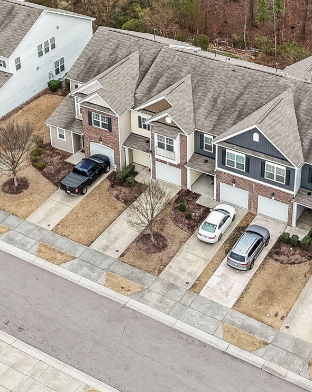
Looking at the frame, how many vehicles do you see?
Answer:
3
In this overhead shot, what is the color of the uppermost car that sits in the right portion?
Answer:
white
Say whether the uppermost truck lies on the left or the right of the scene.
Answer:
left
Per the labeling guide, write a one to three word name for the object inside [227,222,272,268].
car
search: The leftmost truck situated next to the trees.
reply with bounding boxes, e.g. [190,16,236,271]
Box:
[60,152,113,194]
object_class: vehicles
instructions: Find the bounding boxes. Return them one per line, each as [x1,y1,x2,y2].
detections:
[60,152,113,194]
[195,202,237,243]
[227,222,272,268]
